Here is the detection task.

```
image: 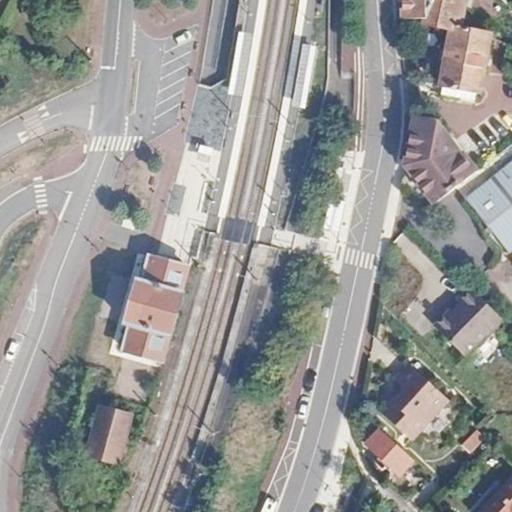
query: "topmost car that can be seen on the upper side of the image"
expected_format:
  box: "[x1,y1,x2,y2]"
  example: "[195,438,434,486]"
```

[172,30,193,45]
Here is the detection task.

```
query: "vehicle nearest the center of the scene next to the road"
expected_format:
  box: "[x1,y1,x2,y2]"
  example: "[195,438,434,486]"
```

[302,368,316,390]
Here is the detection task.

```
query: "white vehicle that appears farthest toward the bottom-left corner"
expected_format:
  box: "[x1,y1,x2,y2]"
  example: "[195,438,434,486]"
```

[4,337,20,359]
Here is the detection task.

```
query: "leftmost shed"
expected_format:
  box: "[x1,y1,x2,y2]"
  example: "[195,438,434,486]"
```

[88,406,134,464]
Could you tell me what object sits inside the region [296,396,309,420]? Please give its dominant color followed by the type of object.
white vehicle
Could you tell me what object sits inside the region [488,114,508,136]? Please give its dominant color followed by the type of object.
gray car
